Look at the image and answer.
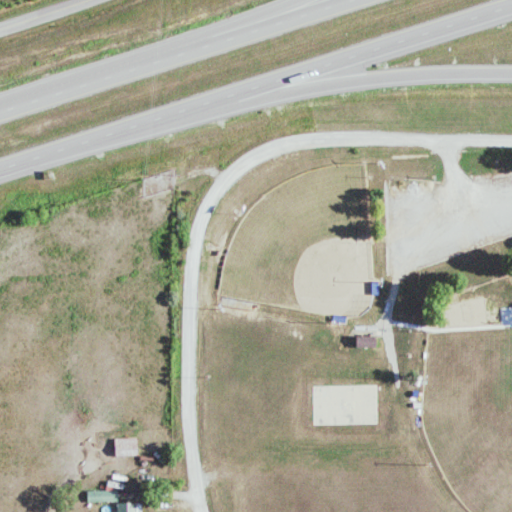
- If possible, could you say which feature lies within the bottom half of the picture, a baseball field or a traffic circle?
baseball field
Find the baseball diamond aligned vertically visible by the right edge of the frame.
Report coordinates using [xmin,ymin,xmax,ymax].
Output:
[420,296,512,512]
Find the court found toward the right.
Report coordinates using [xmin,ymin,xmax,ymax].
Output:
[313,385,378,426]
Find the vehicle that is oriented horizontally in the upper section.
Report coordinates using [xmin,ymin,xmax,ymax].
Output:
[290,70,318,83]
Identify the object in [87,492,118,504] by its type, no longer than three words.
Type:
house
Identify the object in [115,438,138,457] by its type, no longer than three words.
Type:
barn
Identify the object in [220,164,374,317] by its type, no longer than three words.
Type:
baseball field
